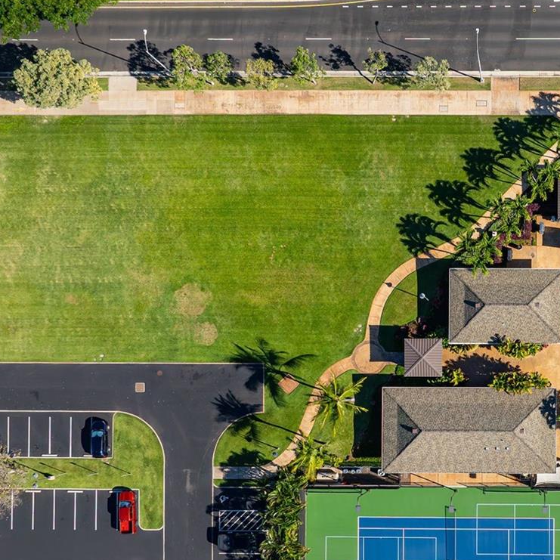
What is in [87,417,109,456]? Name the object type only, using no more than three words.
car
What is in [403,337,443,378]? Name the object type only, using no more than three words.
building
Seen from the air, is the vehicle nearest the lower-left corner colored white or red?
red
